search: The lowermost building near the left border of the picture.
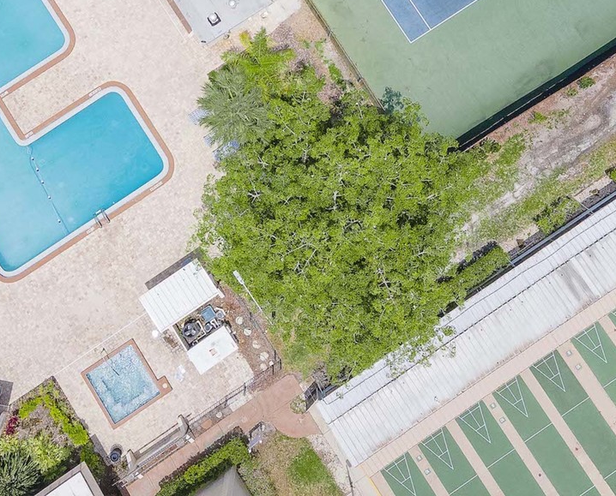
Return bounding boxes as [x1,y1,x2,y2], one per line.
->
[28,451,124,496]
